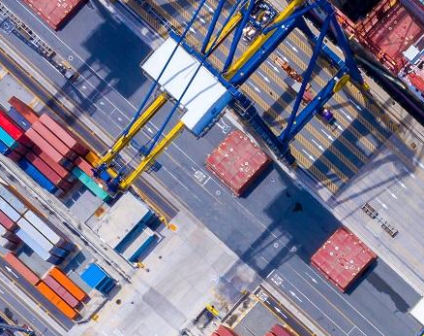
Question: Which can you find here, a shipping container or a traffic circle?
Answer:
shipping container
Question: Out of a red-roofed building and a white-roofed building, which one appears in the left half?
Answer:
white-roofed building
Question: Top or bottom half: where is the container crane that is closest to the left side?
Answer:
top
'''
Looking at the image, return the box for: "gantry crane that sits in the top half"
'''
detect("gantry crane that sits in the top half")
[82,0,369,204]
